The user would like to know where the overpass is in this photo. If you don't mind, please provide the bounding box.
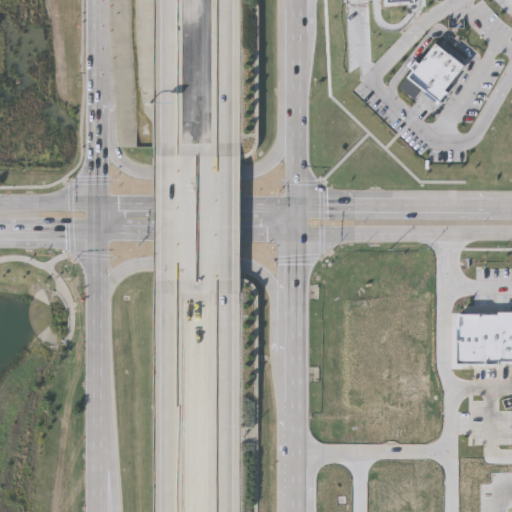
[154,155,240,280]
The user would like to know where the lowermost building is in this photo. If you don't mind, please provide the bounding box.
[458,311,512,367]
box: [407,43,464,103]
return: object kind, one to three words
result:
building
